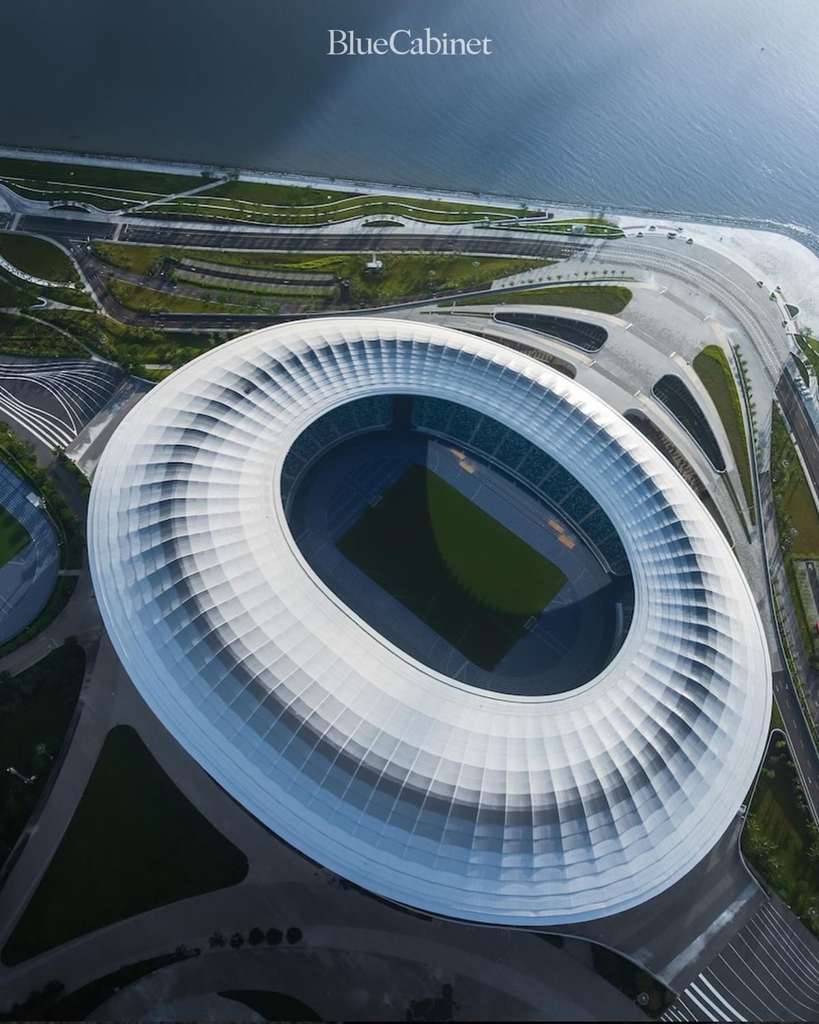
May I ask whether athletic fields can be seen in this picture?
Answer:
Yes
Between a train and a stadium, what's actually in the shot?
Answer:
stadium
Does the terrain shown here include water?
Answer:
Yes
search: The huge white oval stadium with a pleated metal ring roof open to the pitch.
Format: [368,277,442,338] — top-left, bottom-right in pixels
[86,316,772,928]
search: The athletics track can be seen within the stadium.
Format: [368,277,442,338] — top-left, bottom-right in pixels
[307,442,605,696]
